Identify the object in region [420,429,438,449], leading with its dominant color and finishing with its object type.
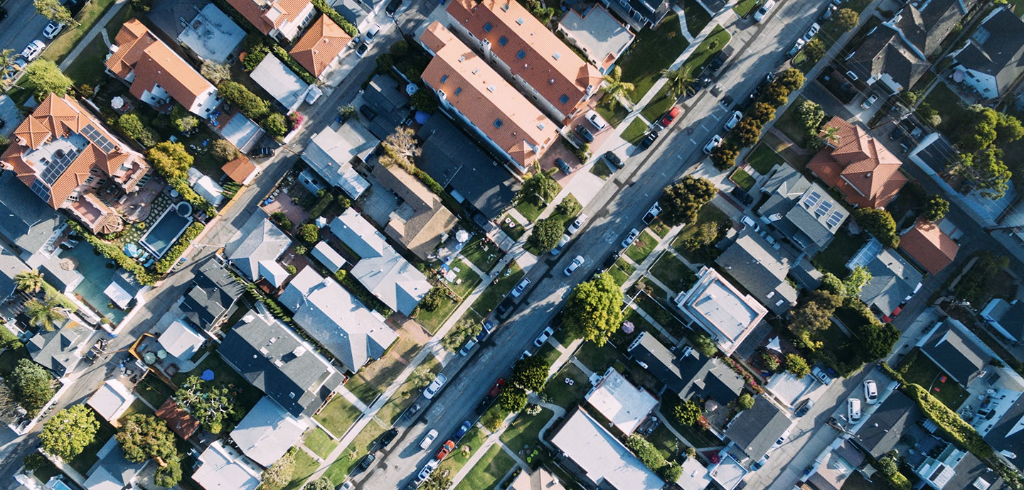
white car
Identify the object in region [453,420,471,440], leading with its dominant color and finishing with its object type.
blue car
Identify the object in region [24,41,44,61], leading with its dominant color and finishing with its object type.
white car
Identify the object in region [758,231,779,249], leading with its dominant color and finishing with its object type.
blue car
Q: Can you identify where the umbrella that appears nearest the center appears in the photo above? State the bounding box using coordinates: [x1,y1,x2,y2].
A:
[455,229,470,243]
